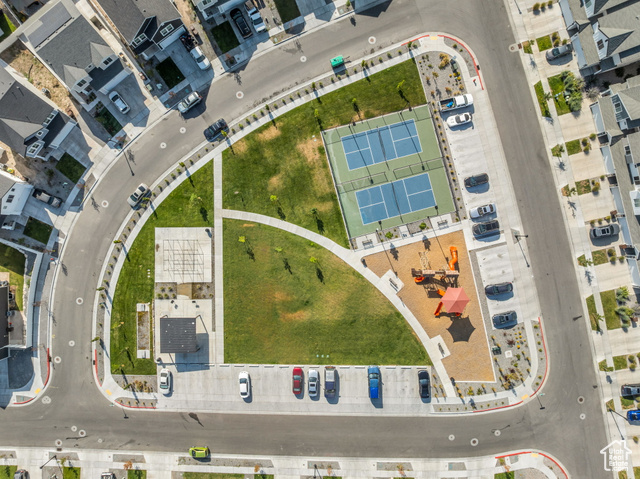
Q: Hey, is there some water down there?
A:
No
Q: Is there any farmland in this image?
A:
No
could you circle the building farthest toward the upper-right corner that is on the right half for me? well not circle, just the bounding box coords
[561,0,640,79]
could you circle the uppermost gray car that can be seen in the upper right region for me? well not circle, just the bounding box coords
[545,43,574,60]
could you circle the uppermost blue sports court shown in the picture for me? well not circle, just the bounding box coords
[341,119,422,171]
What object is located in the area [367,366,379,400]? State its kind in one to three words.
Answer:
vehicle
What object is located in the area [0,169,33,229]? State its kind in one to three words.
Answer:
house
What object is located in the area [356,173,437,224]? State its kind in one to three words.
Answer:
sports court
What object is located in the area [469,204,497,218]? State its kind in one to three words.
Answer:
car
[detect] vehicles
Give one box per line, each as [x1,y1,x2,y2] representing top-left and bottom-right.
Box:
[29,186,64,208]
[438,94,473,113]
[491,311,518,326]
[626,410,640,421]
[324,366,336,400]
[158,368,171,395]
[184,40,214,73]
[230,8,253,39]
[14,469,28,479]
[472,221,501,234]
[469,204,497,218]
[242,2,269,37]
[178,91,204,112]
[446,113,473,128]
[621,384,640,396]
[367,366,379,400]
[238,371,250,398]
[484,282,513,295]
[418,370,430,398]
[202,120,229,139]
[101,472,114,479]
[463,173,490,188]
[589,224,619,238]
[127,183,150,208]
[291,368,303,395]
[545,43,574,60]
[190,446,211,459]
[307,369,319,396]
